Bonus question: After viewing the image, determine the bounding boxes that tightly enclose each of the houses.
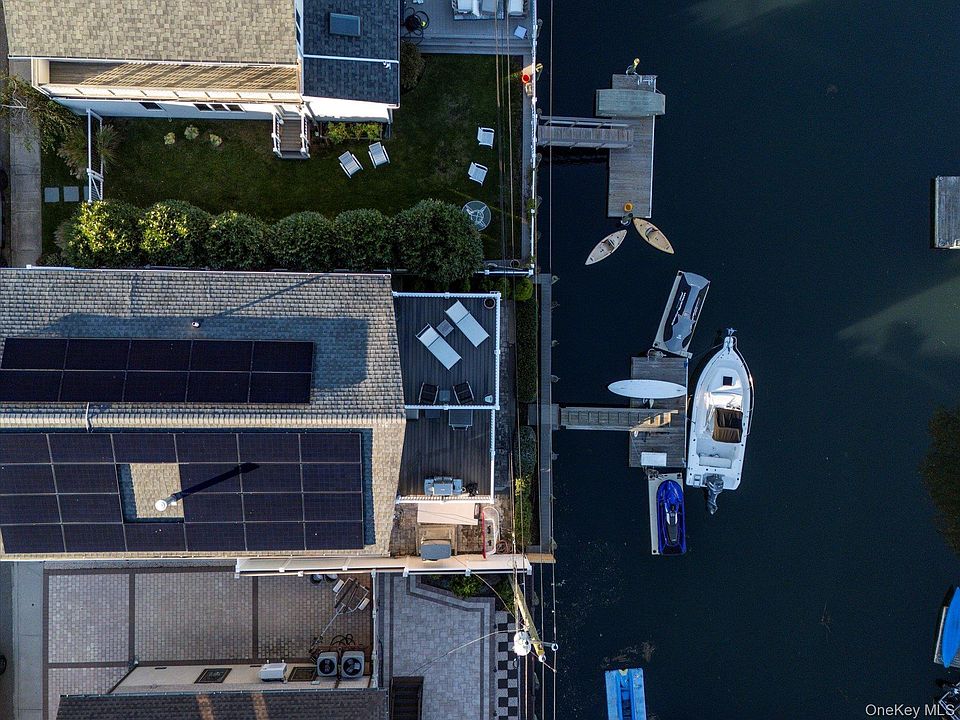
[0,0,405,157]
[0,266,406,559]
[52,668,389,720]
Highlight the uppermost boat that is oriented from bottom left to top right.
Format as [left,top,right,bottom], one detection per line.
[586,231,628,265]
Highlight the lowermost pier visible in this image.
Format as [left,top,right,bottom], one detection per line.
[927,602,960,668]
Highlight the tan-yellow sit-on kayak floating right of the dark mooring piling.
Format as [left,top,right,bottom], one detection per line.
[633,218,675,253]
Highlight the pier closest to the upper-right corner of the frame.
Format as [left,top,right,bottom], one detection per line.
[928,176,960,249]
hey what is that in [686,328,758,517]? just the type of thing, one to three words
boat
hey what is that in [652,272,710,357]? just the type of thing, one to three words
pier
